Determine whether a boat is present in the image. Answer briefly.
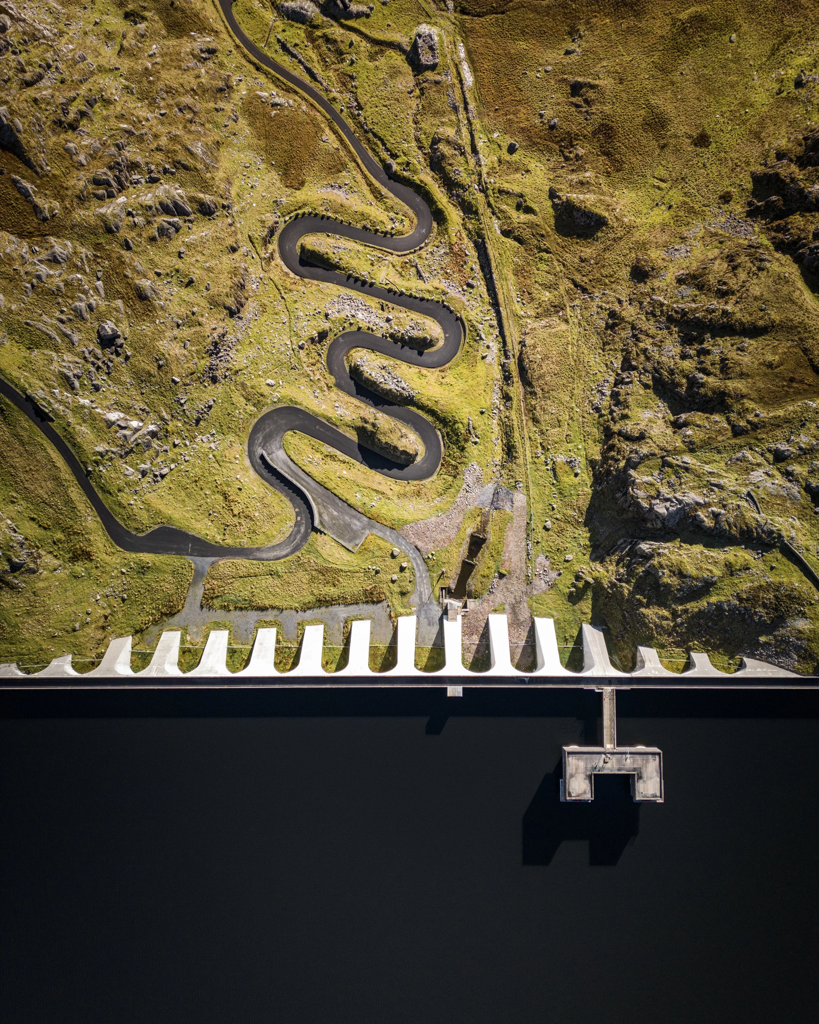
No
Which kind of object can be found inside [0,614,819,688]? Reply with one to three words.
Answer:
dam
